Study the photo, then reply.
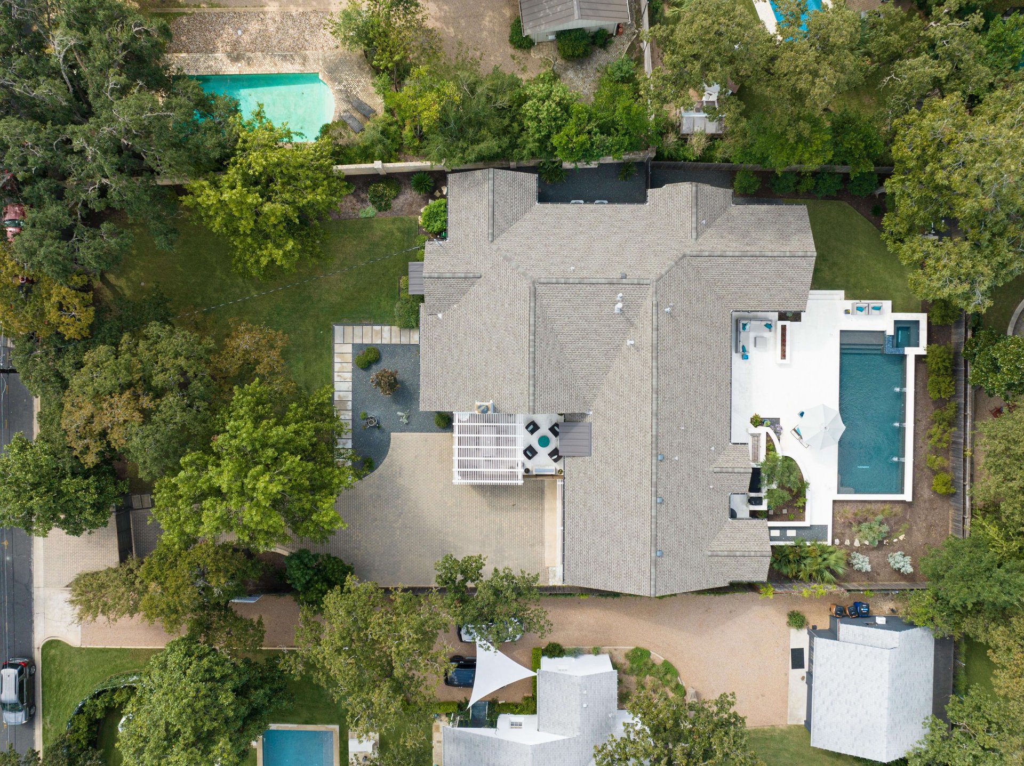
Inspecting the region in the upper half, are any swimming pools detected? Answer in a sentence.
Yes, there is a swimming pool in the upper half.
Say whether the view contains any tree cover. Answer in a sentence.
Yes, some tree cover is visible.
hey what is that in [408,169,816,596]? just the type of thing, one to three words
house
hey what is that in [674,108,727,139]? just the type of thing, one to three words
greenhouse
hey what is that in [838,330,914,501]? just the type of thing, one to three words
swimming pool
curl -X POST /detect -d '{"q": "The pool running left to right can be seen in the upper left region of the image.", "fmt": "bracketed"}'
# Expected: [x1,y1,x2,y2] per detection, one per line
[174,73,334,142]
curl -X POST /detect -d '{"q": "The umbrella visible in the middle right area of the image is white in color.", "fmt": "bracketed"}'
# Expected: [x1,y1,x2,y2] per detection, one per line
[791,399,847,455]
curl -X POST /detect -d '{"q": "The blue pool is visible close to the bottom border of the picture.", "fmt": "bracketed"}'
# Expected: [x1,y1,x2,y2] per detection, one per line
[256,724,339,766]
